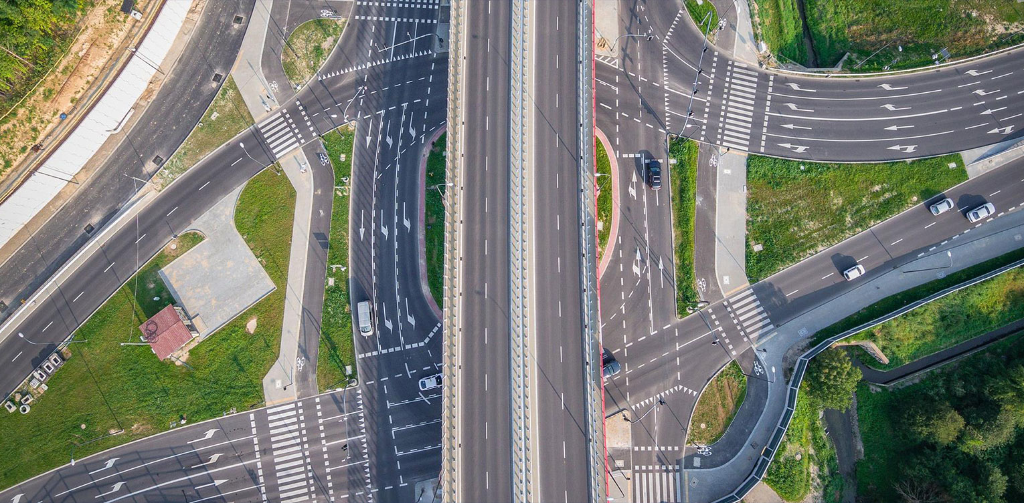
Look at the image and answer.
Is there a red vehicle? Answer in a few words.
No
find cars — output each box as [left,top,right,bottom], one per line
[418,373,443,390]
[926,197,954,217]
[962,203,994,223]
[603,360,621,378]
[840,264,865,282]
[648,161,663,190]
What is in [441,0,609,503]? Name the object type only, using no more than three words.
overpass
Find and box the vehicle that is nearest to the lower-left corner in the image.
[356,301,375,336]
